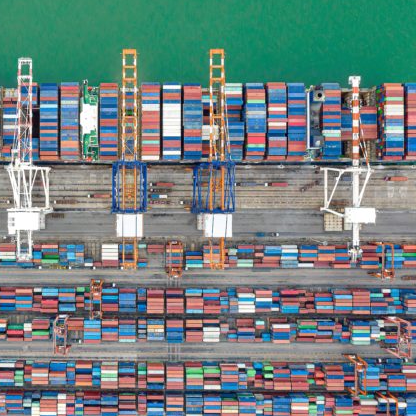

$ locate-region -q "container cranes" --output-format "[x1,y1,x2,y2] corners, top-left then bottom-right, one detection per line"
[336,346,368,395]
[307,73,377,263]
[185,49,235,270]
[111,49,148,270]
[361,239,396,280]
[90,275,107,317]
[163,236,182,276]
[3,56,52,262]
[53,311,72,354]
[377,313,412,358]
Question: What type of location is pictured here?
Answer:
port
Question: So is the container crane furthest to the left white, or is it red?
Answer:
white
